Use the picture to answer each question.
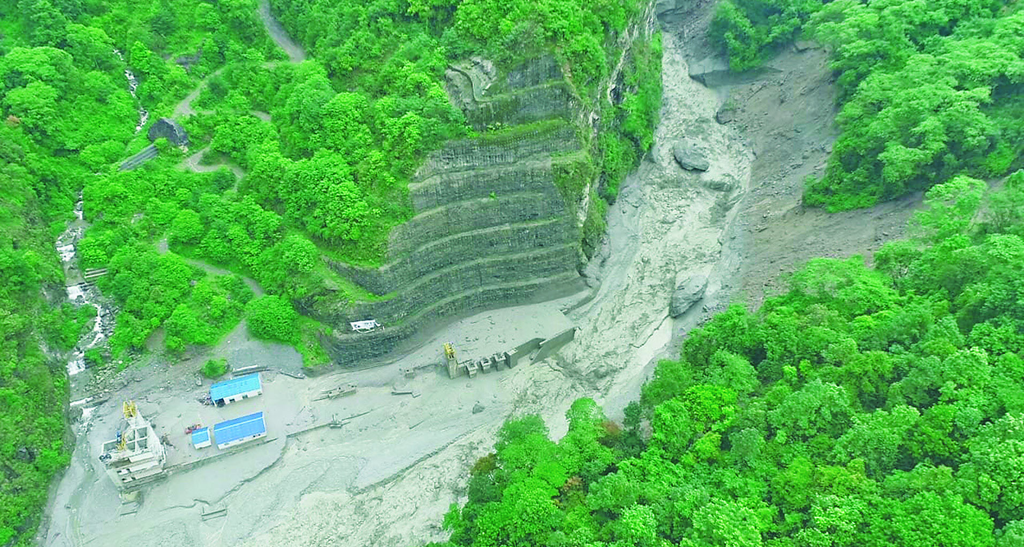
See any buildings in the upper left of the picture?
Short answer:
No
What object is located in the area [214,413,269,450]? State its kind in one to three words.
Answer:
house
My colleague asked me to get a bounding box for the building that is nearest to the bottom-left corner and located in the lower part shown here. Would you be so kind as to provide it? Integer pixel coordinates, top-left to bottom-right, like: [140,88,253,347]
[191,426,212,449]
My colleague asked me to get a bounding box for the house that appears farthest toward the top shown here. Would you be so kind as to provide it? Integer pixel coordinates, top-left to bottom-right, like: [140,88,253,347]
[210,373,263,407]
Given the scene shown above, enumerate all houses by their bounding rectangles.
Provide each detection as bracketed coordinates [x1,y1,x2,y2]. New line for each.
[210,373,263,407]
[214,413,269,450]
[191,426,212,449]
